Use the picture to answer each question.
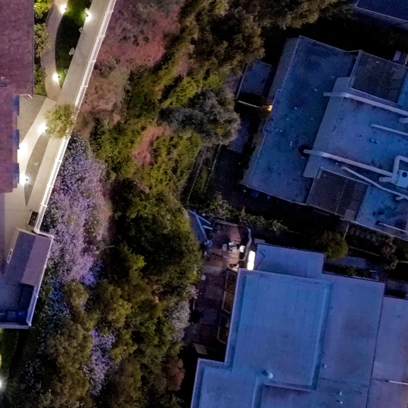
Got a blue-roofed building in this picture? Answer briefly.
Yes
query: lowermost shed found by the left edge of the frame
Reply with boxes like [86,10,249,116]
[5,228,54,287]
